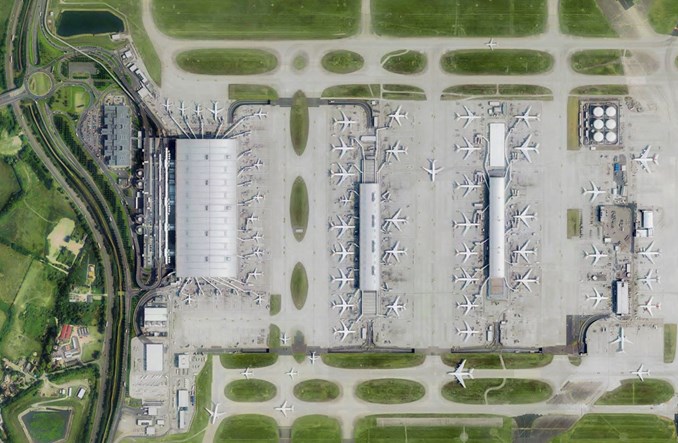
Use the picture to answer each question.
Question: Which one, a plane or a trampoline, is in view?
plane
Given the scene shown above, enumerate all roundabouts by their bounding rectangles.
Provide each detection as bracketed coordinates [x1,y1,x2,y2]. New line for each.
[24,70,55,101]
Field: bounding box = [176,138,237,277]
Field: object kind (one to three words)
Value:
building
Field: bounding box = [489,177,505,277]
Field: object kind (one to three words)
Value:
building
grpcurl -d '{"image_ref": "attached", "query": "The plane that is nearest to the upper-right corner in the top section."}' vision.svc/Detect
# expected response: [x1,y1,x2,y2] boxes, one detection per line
[633,145,661,173]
